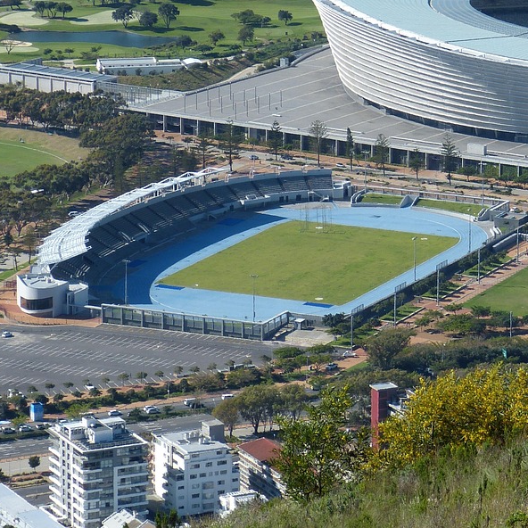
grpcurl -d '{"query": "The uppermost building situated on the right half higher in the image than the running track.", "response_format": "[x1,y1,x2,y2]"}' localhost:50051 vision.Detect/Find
[333,179,355,202]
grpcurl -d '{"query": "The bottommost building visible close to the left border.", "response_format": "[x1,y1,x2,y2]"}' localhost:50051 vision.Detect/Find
[0,482,56,528]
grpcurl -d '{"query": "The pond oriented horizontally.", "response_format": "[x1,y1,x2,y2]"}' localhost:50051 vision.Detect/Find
[11,31,174,46]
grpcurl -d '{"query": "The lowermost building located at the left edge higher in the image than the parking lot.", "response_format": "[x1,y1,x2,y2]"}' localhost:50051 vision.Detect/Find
[16,266,106,314]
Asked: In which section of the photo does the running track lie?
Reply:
center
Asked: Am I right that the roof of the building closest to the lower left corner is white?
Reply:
Yes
